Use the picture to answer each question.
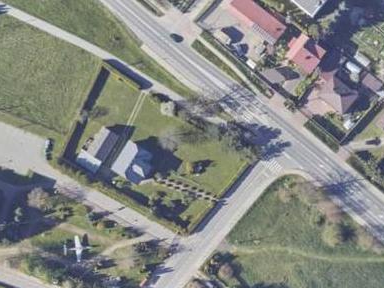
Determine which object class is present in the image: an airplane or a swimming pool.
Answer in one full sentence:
Of the two, only an airplane appears.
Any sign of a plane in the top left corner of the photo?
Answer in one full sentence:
No, looking in the top left corner of the photo, there is no plane.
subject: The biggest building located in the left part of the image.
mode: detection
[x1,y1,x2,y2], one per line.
[110,139,155,184]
